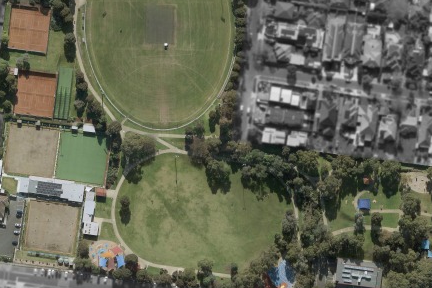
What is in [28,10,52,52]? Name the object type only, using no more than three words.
tennis court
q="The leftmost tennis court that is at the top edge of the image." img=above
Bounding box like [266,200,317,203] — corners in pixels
[8,8,32,50]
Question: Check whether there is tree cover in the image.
Yes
